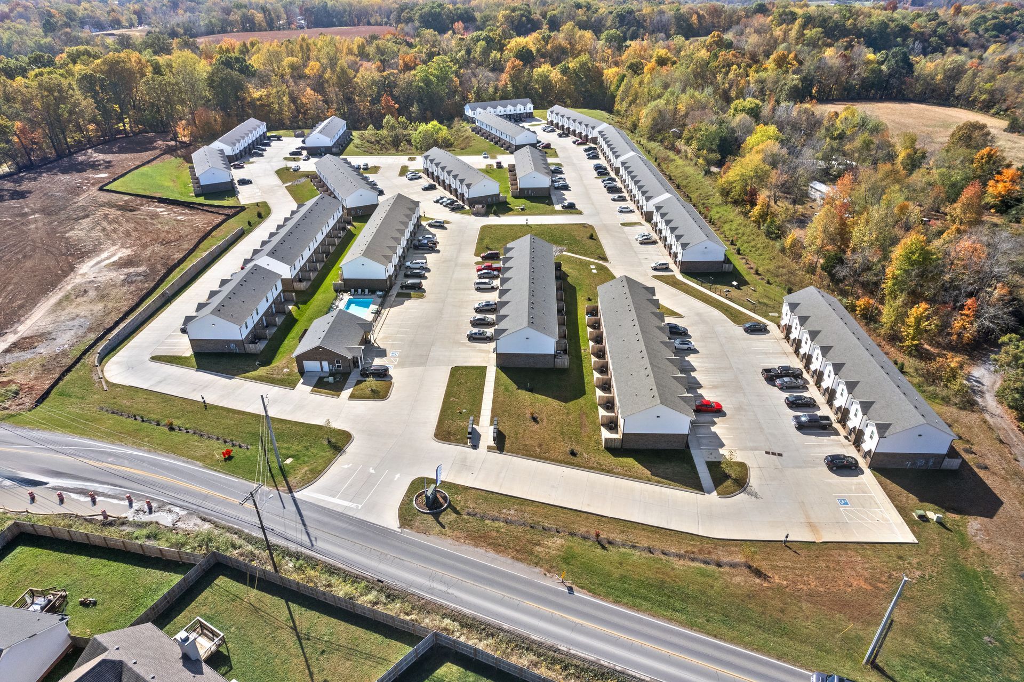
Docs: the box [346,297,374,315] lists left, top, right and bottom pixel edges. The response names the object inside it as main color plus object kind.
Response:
blue swimming pool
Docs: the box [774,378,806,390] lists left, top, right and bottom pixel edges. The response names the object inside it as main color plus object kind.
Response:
gray vehicle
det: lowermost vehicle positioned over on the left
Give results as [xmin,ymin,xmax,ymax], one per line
[360,363,390,377]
